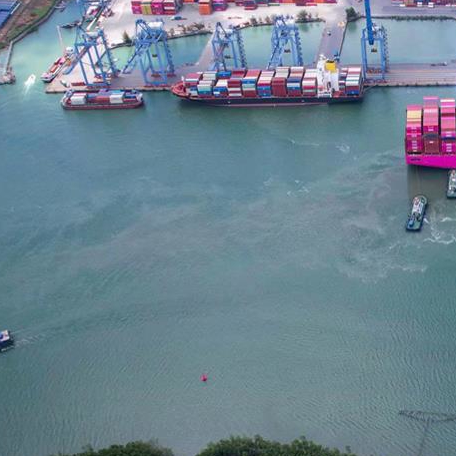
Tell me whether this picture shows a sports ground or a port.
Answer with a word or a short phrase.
port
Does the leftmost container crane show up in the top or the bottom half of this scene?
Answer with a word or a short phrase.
top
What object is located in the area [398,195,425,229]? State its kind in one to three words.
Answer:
boat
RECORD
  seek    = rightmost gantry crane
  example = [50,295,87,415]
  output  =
[361,0,389,79]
